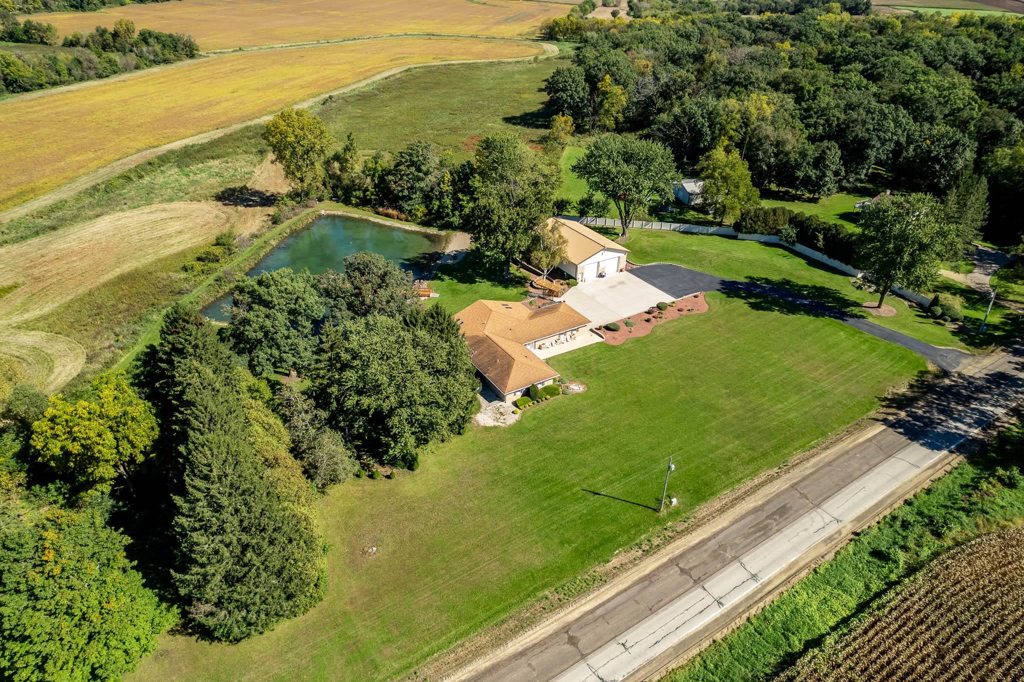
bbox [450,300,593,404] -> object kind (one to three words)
house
